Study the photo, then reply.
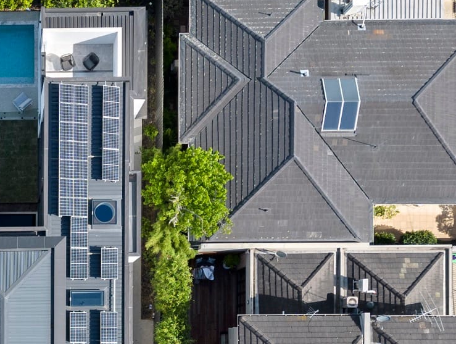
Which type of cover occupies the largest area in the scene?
buildings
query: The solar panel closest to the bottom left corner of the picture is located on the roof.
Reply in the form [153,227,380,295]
[69,312,87,343]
